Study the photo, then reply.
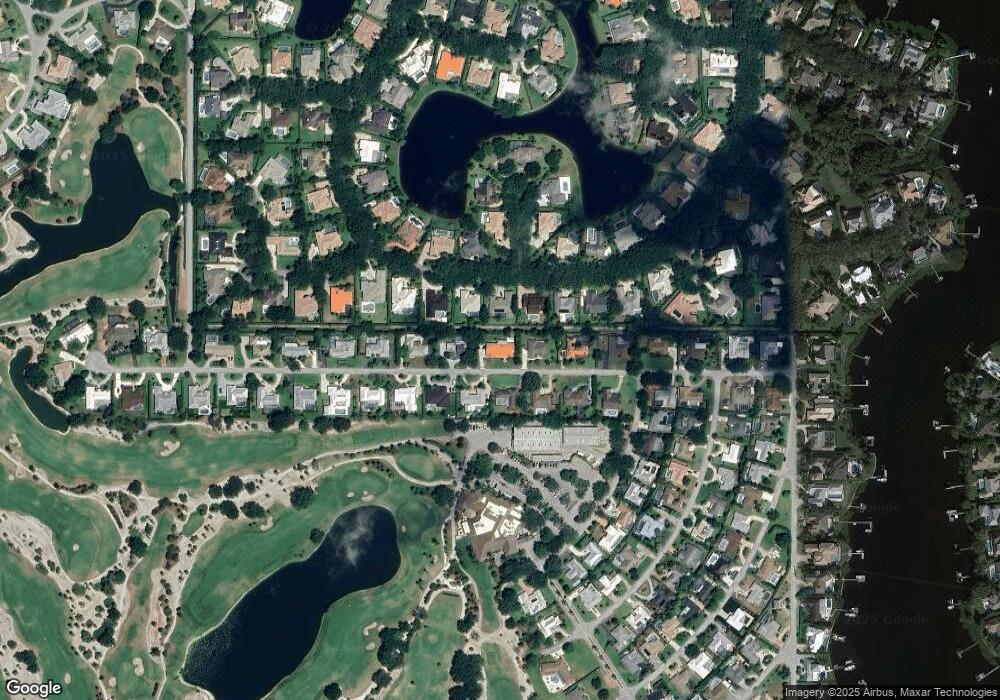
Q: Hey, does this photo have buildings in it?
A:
Yes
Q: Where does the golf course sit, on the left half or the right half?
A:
left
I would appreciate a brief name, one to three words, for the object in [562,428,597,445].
building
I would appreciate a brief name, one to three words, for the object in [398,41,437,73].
house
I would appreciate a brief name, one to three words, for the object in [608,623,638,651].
house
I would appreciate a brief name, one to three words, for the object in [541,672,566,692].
swimming pool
